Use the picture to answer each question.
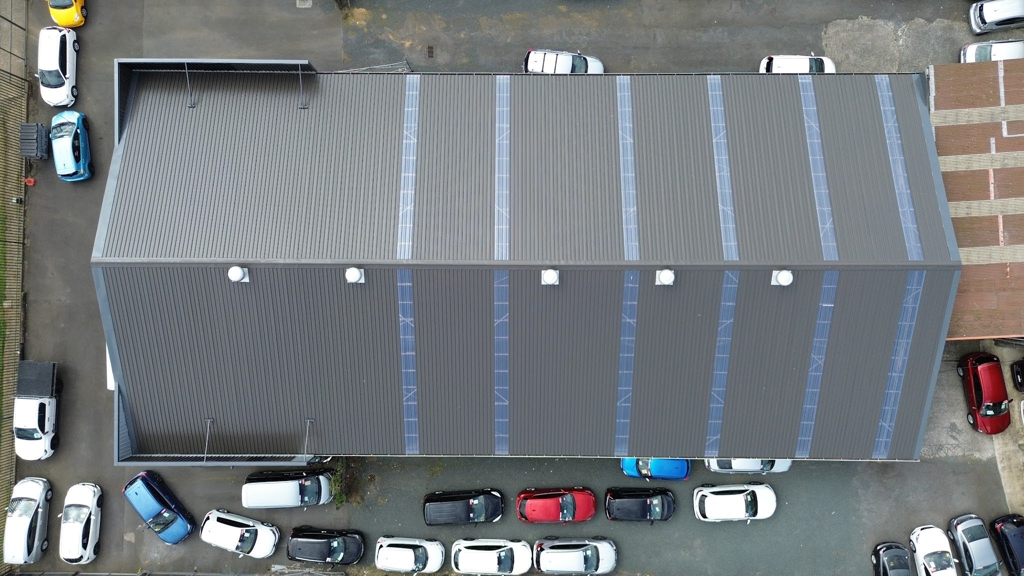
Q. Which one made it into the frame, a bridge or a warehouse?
warehouse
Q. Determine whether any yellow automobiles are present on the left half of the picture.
Yes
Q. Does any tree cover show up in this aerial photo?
No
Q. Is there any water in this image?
No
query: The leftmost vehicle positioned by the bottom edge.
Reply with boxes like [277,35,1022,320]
[5,477,54,563]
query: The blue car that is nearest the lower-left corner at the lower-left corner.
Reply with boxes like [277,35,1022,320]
[126,468,193,541]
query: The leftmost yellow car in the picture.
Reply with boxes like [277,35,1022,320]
[45,0,92,29]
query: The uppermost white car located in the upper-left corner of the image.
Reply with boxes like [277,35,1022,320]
[35,30,83,107]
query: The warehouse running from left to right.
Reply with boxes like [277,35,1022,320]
[90,59,962,466]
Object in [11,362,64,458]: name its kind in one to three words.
truck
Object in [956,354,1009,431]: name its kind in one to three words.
car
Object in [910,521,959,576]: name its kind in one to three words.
car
